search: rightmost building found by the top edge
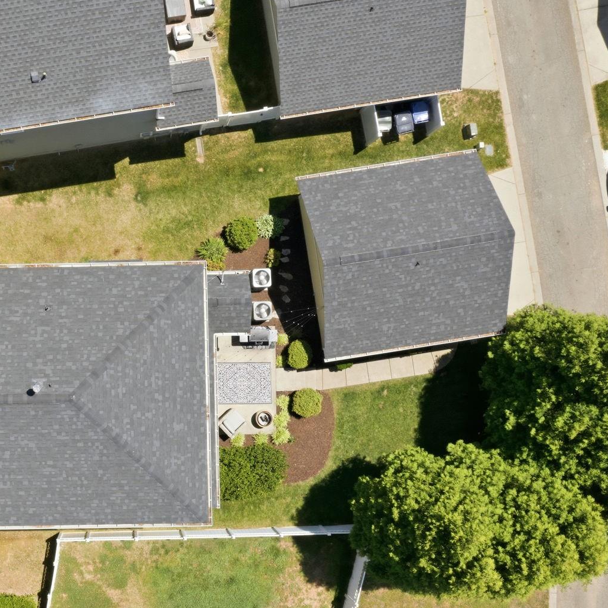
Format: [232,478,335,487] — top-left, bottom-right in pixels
[260,0,469,120]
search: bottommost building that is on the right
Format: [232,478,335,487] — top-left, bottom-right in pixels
[297,151,517,359]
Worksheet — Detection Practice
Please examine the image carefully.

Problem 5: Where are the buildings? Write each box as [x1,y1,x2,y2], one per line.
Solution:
[0,0,219,157]
[297,151,517,359]
[0,261,254,531]
[260,0,469,120]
